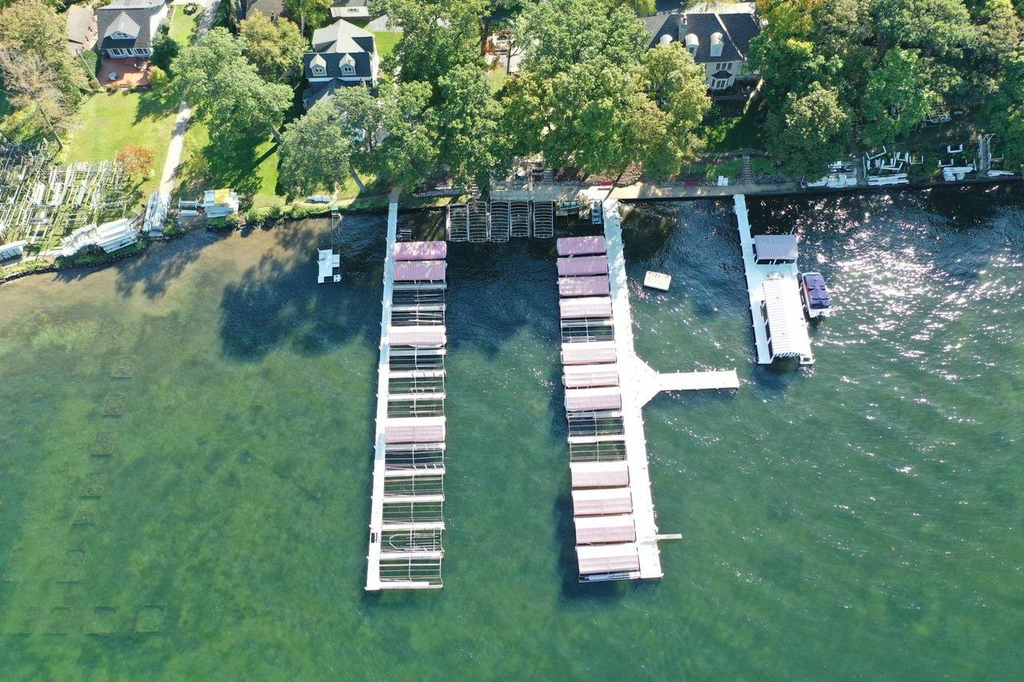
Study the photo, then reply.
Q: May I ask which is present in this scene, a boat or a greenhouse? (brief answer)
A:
boat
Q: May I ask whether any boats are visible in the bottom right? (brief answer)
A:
No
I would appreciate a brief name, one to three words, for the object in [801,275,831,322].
boat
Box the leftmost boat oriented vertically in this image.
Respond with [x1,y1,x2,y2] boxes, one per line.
[590,199,604,227]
